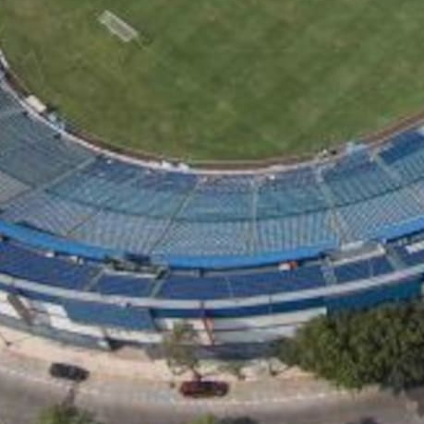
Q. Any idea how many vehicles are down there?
2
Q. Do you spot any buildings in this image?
No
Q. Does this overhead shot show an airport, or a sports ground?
sports ground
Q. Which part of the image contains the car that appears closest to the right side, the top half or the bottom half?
bottom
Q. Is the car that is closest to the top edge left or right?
left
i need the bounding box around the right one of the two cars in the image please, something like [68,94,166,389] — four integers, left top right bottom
[183,379,224,400]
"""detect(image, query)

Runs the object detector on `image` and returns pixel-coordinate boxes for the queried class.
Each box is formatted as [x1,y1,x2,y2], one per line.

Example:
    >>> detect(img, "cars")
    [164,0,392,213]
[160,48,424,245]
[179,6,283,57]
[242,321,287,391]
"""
[183,379,224,400]
[47,360,89,384]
